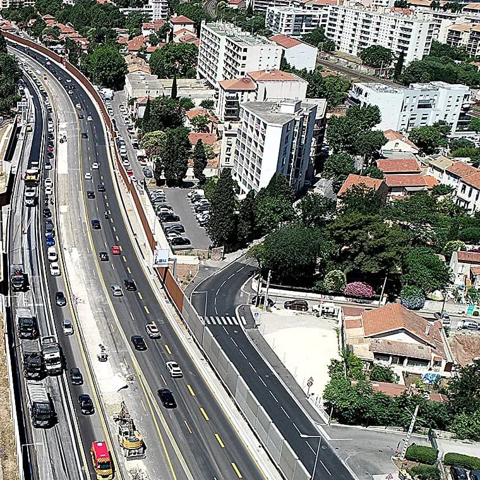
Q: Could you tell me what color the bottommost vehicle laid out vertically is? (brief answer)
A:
red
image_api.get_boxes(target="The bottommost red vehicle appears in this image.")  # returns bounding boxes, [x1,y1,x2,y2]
[90,441,113,480]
